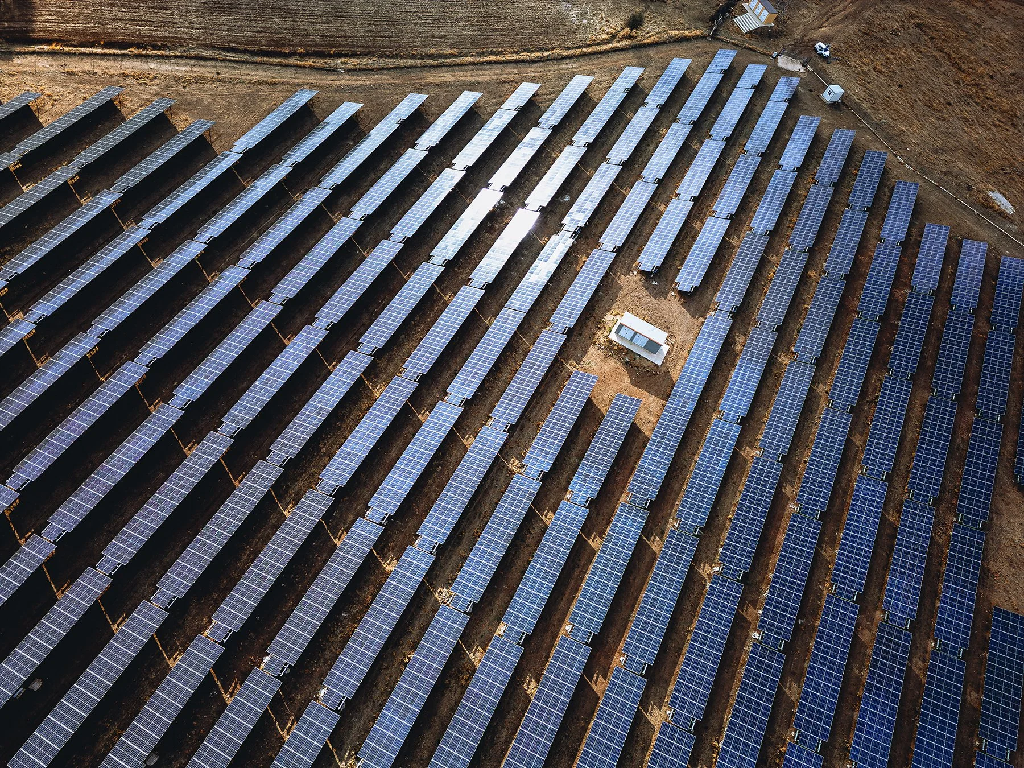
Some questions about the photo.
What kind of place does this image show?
solar farm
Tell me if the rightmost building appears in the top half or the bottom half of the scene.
top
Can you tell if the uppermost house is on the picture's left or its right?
right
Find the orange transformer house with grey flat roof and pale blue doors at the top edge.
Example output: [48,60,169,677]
[741,0,781,30]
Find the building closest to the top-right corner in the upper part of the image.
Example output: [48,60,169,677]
[820,84,850,104]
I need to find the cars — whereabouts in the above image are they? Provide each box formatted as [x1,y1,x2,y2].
[815,42,832,57]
